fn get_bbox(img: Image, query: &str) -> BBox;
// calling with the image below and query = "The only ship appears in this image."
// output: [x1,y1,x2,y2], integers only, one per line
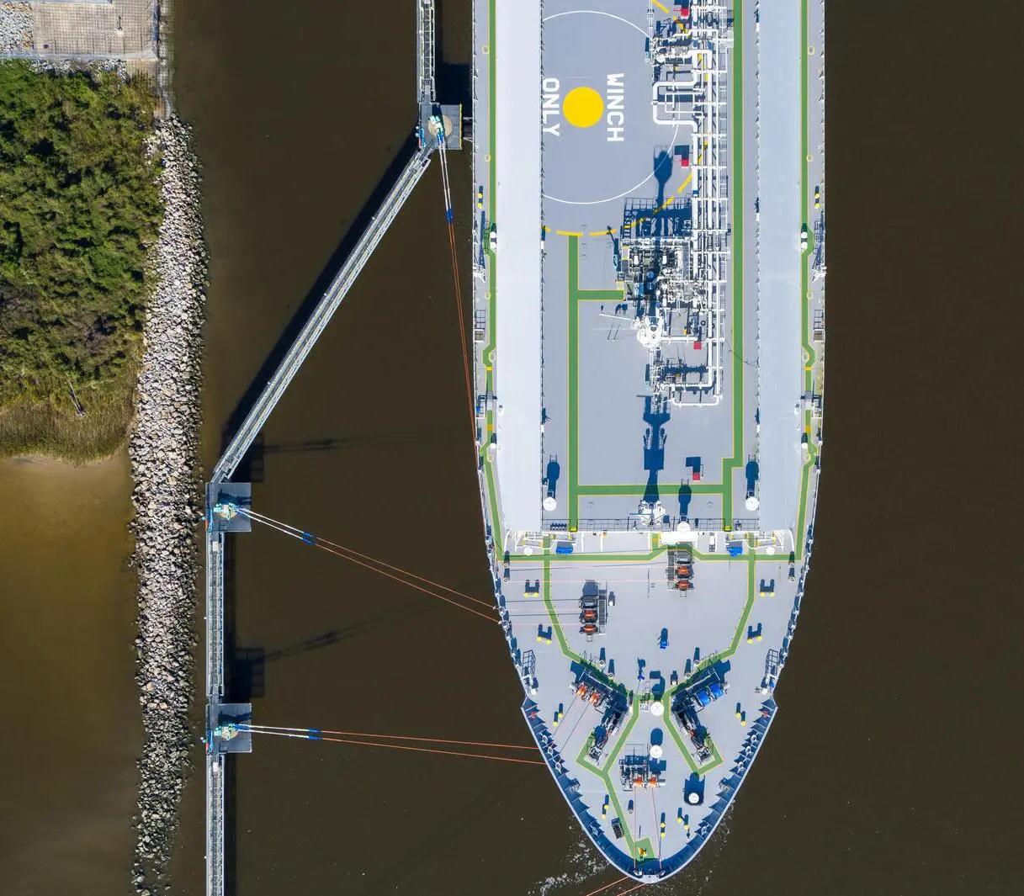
[474,0,825,884]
